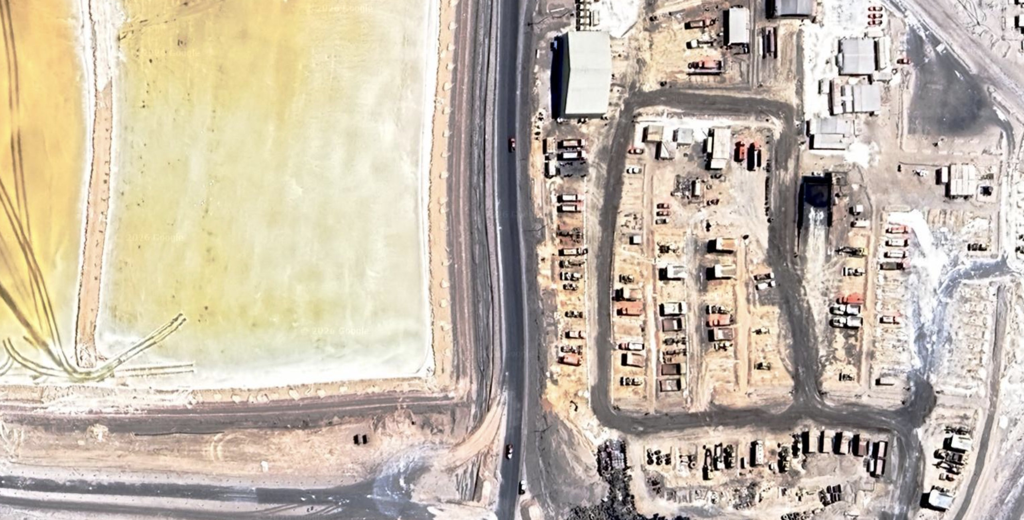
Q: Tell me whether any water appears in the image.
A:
Yes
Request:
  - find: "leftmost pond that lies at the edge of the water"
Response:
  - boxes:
[0,0,91,375]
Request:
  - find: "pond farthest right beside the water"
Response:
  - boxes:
[104,0,426,368]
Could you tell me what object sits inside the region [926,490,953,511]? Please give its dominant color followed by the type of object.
white truck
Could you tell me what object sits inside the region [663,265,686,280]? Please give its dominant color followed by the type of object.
white vehicle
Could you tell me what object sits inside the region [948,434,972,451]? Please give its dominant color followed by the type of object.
white vehicle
